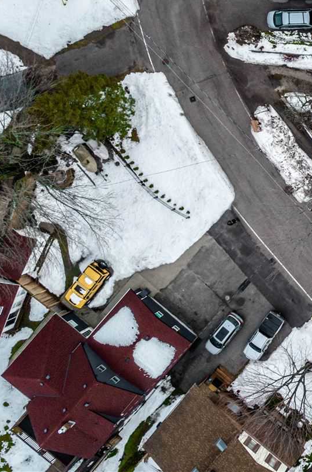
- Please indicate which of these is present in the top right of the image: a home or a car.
car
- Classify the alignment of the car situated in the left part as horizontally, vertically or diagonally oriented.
diagonally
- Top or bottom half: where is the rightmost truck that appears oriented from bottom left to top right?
bottom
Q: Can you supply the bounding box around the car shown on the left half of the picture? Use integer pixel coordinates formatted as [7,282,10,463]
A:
[62,260,106,311]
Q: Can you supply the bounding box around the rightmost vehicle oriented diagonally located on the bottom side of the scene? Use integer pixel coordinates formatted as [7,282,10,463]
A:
[237,307,289,366]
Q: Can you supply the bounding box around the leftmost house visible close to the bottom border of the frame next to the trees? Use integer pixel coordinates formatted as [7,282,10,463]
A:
[0,288,197,472]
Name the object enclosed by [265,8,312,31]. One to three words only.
car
